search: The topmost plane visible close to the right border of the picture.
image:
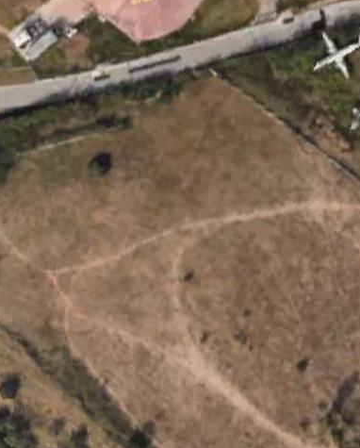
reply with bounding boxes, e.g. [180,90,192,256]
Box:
[314,32,360,77]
